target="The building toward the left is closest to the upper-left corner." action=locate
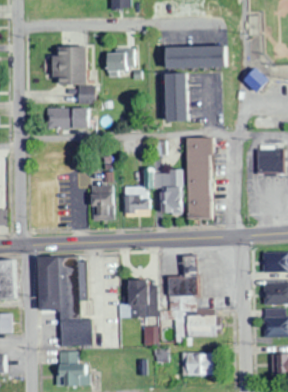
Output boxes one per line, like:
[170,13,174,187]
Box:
[45,46,86,85]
